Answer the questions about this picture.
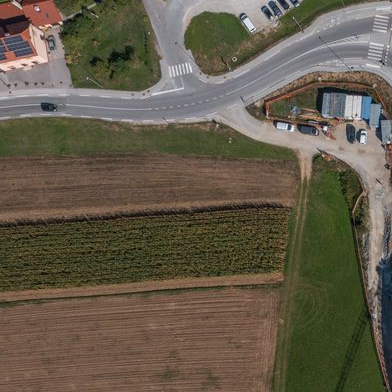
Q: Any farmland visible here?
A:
Yes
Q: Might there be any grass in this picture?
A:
Yes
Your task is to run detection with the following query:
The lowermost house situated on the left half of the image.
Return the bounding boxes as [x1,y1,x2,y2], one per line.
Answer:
[0,25,48,73]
